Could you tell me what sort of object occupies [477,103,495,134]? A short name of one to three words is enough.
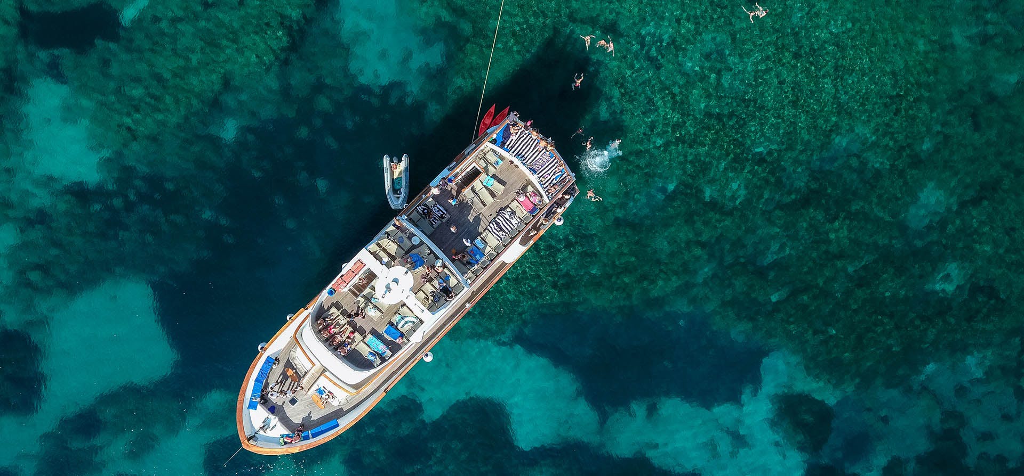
boat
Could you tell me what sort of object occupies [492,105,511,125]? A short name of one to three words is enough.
boat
